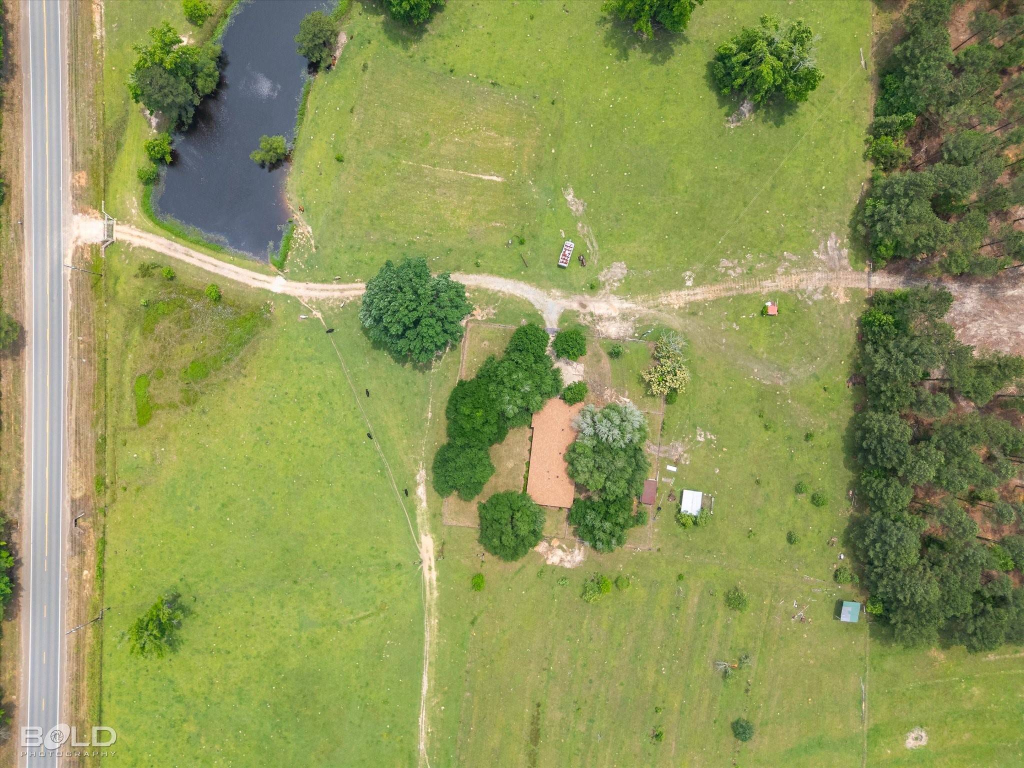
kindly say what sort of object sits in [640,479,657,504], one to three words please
shed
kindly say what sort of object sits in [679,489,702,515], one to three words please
shed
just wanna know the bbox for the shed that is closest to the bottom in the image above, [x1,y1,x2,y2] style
[830,597,860,622]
